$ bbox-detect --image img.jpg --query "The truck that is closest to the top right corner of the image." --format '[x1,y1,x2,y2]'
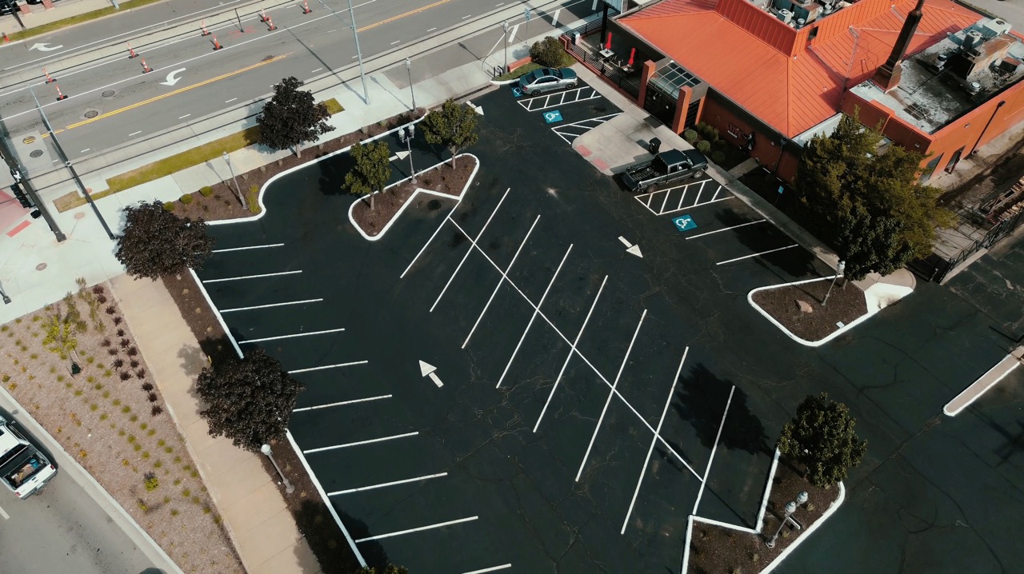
[620,149,712,194]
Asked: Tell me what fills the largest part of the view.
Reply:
paved ground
